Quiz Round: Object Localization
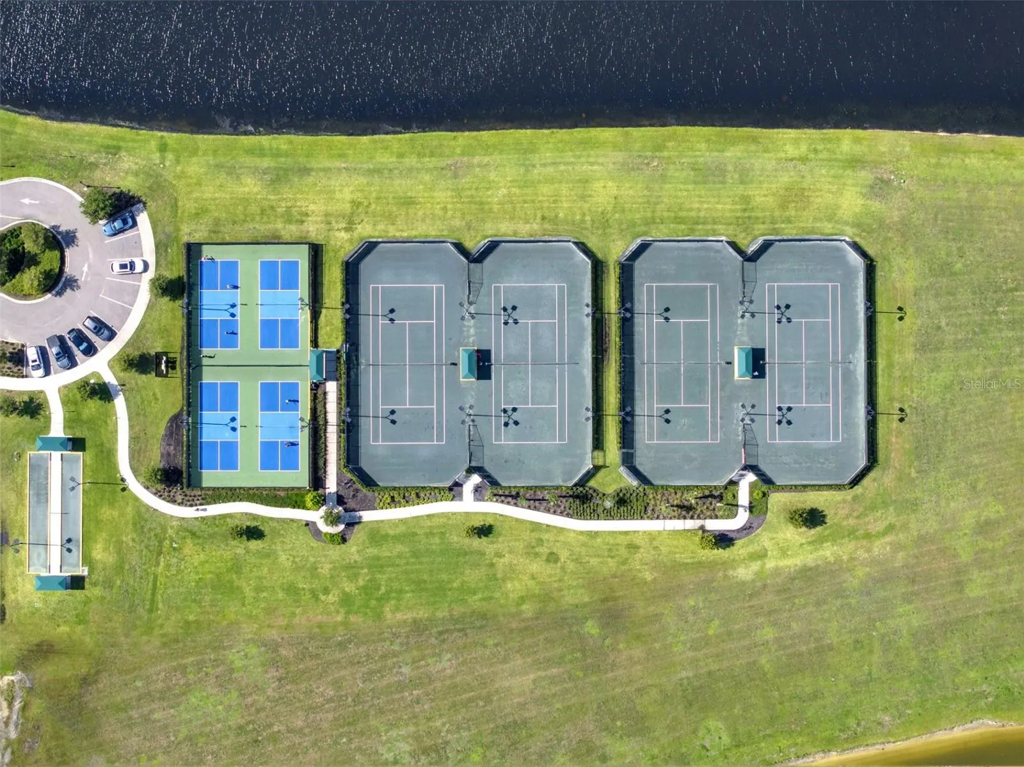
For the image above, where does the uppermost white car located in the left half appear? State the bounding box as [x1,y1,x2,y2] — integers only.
[110,258,143,274]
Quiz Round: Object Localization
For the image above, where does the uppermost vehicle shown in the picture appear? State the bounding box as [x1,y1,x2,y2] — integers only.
[102,213,134,234]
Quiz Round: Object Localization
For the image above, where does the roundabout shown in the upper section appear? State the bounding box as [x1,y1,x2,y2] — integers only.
[0,176,144,378]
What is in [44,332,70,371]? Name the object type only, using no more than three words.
truck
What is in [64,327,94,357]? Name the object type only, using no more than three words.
car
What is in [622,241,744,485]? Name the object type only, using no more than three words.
tennis court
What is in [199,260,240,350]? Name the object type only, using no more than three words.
sports court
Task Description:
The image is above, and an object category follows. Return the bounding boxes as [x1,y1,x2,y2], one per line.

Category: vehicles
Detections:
[102,213,134,234]
[24,345,44,379]
[64,327,94,357]
[110,258,143,274]
[83,314,113,341]
[44,332,70,371]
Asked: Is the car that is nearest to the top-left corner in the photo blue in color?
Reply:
Yes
